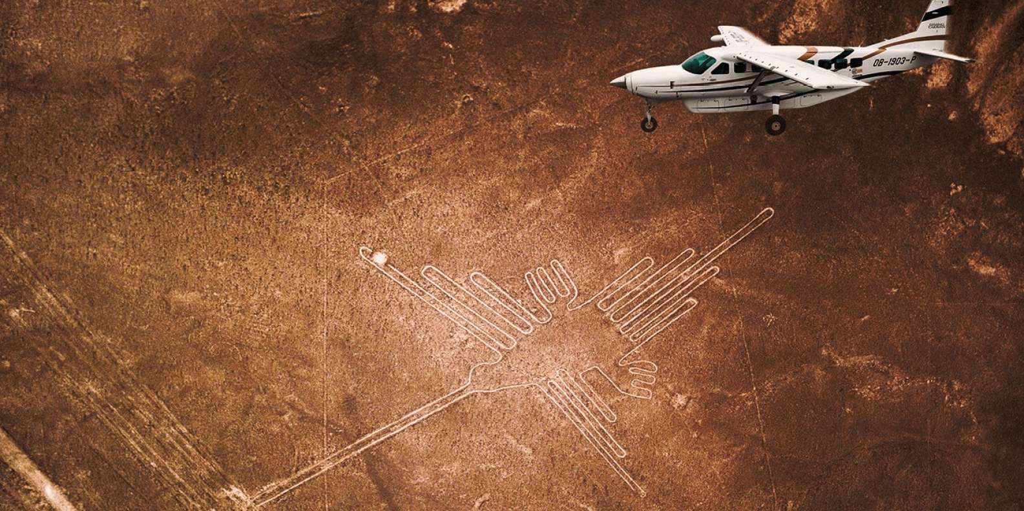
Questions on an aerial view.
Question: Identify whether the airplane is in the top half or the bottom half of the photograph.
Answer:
top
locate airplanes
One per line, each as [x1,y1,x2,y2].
[611,0,976,136]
